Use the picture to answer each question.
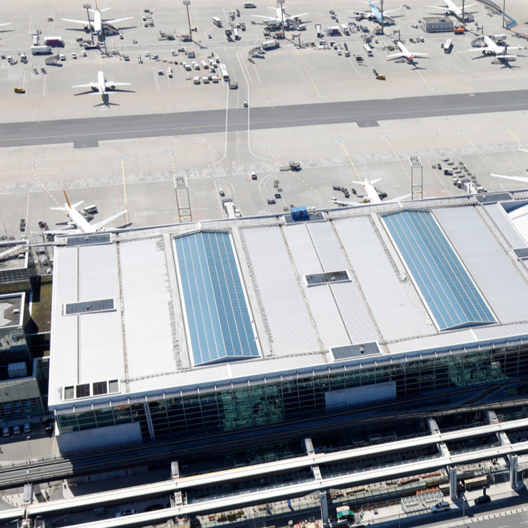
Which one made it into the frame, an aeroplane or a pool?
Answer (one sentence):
It is an aeroplane that can be seen here.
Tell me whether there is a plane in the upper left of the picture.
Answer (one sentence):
Yes, a plane is visible in the upper left of the picture.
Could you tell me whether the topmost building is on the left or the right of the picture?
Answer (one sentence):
It is on the right.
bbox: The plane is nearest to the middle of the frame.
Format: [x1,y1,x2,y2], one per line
[324,157,420,202]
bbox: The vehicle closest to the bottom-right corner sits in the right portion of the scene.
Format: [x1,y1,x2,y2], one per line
[472,491,493,504]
